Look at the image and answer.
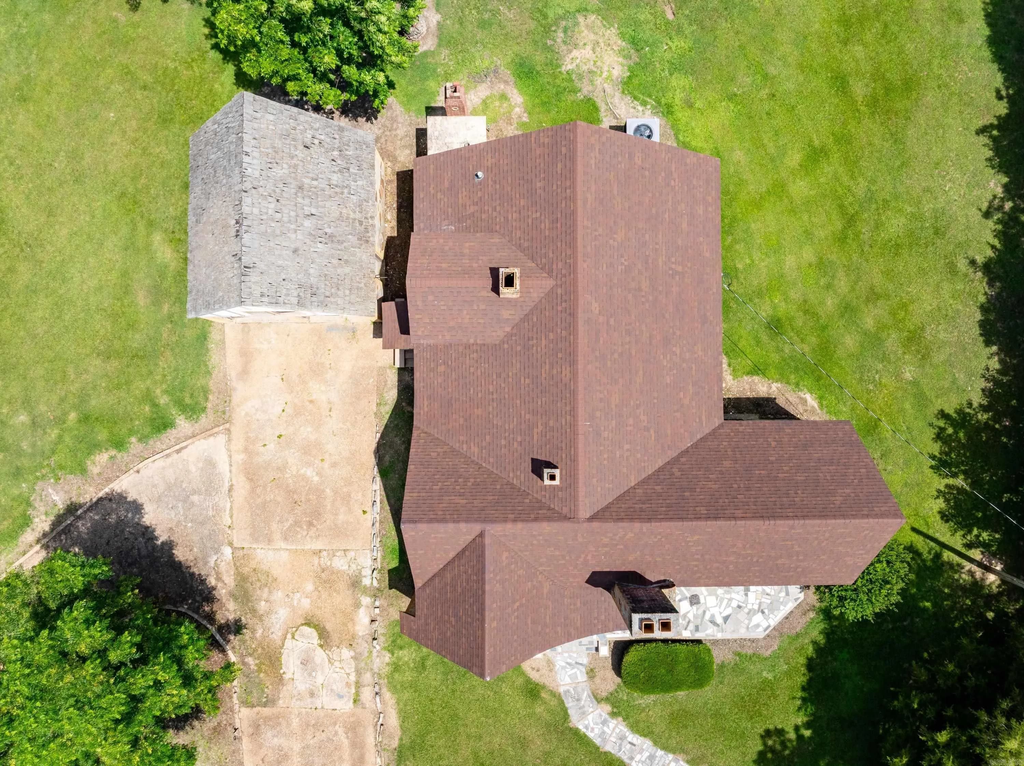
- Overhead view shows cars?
No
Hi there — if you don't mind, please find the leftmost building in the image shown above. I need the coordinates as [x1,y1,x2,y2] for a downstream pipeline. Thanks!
[189,92,383,322]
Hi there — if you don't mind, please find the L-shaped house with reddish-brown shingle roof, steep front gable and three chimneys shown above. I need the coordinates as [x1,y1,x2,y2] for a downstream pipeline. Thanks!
[382,122,905,682]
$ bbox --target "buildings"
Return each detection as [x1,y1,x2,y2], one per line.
[382,122,905,682]
[189,92,383,322]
